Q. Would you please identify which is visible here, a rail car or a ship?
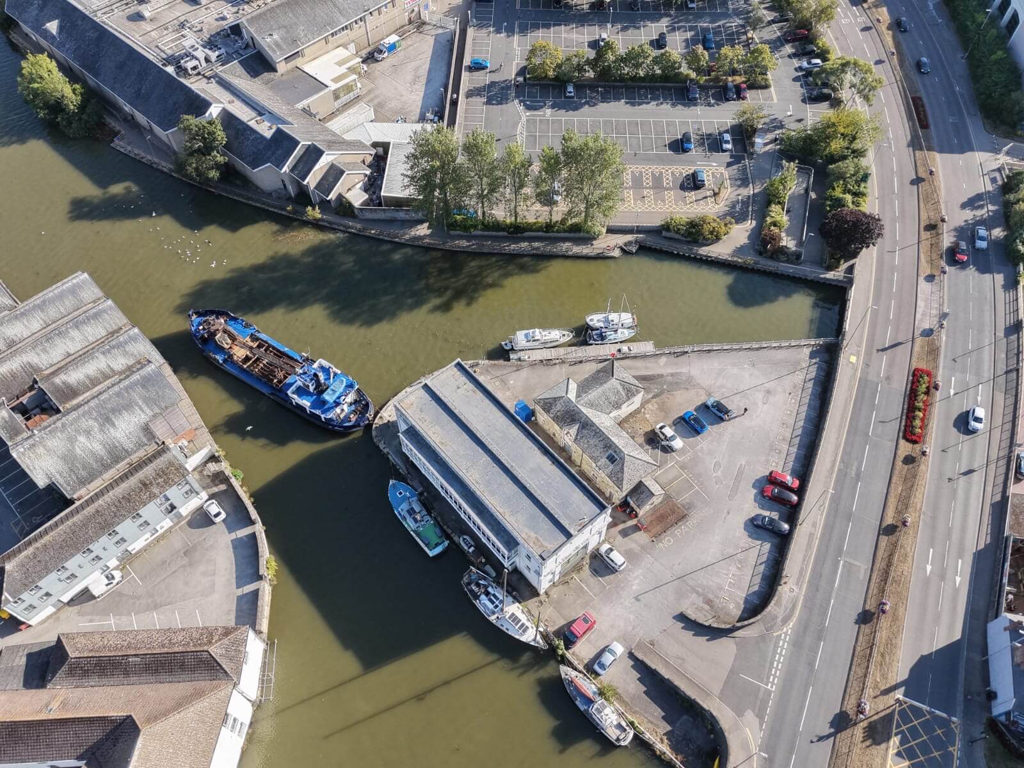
ship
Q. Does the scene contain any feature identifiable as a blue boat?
Yes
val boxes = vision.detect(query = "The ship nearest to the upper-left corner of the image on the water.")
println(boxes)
[188,309,381,447]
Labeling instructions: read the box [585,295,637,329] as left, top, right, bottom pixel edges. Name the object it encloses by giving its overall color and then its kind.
white boat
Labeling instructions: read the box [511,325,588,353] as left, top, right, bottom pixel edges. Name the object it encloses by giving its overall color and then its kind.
white boat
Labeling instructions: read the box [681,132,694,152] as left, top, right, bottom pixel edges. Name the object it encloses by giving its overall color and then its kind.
blue vehicle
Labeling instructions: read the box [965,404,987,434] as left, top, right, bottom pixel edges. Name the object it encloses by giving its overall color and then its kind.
white car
